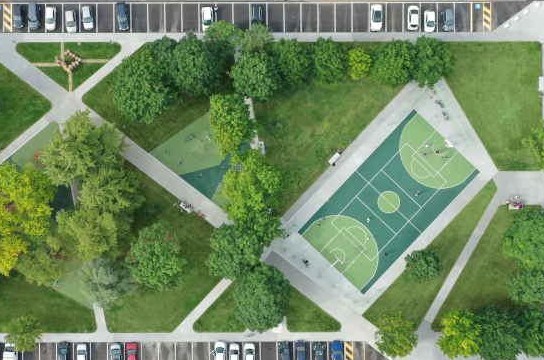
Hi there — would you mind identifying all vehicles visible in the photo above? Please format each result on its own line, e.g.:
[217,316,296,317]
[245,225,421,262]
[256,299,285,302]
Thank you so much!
[423,9,436,34]
[369,4,384,33]
[125,342,137,360]
[277,340,291,360]
[12,5,25,30]
[201,5,213,32]
[56,341,70,360]
[228,342,240,360]
[76,343,88,360]
[209,340,226,360]
[27,2,41,31]
[44,6,58,32]
[330,340,344,360]
[81,5,95,32]
[406,5,421,32]
[312,341,324,360]
[109,341,122,360]
[243,342,256,360]
[295,340,306,360]
[251,4,263,23]
[64,10,77,35]
[116,2,129,32]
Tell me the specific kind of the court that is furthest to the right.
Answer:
basketball court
